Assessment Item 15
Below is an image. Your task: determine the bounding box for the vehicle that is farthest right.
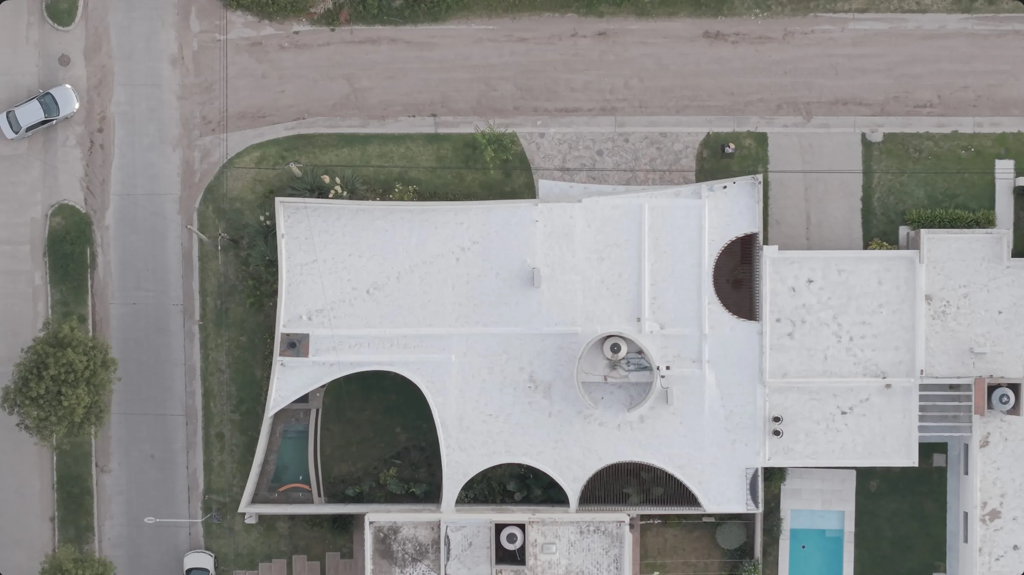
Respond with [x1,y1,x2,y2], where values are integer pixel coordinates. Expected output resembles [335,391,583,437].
[181,549,218,575]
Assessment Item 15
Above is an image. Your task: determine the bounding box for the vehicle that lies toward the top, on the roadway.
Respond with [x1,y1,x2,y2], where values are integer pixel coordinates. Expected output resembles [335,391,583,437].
[0,83,77,138]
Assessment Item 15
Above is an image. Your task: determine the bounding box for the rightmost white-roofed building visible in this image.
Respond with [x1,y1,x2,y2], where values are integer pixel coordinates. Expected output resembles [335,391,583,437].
[762,226,1024,575]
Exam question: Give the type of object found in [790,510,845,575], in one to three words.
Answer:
swimming pool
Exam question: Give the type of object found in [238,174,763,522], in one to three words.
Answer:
house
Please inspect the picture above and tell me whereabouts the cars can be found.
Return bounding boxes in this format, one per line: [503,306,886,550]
[181,549,218,575]
[0,83,77,138]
